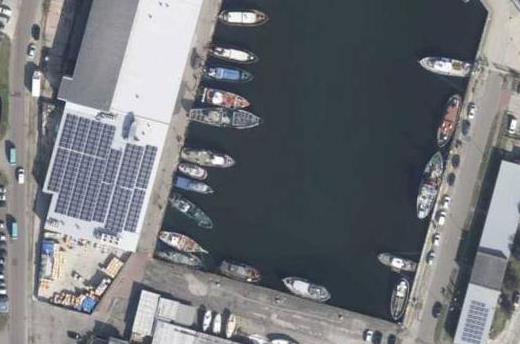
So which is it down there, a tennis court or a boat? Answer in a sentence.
There is a boat in the scene.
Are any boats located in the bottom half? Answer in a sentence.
Yes, looking in the bottom half, one can make out a boat.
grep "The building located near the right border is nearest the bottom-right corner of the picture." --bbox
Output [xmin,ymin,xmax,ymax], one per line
[454,159,520,344]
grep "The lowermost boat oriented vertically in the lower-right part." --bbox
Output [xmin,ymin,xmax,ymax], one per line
[393,277,411,320]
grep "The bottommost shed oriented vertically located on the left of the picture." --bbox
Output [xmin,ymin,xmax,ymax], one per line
[132,290,162,338]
